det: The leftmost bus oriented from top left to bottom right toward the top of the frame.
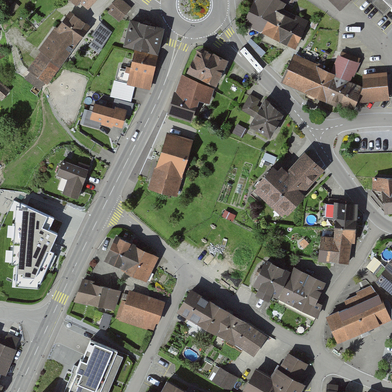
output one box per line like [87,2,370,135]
[240,46,264,72]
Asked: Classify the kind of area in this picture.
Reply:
residential area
